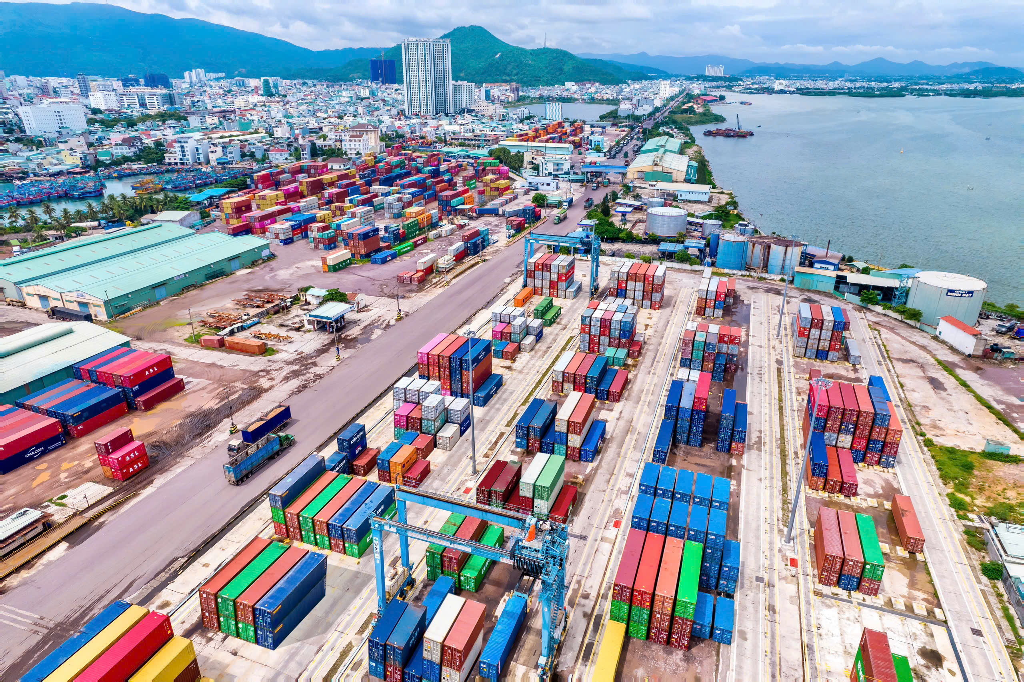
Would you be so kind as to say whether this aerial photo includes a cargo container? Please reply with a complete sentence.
Yes, looking at the shot, I can spot a cargo container.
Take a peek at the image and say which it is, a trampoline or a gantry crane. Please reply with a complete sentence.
Visible in the photo is a gantry crane.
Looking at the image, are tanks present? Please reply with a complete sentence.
Yes, there is a tank in the image.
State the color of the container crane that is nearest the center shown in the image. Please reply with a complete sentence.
The color of the container crane that is nearest the center is blue.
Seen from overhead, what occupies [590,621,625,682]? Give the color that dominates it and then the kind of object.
yellow shipping container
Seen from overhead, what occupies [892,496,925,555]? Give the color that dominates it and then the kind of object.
red shipping container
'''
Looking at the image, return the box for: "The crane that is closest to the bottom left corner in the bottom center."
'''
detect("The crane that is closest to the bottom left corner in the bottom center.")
[356,472,582,682]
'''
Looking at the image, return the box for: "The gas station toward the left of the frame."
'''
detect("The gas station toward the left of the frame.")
[303,301,359,333]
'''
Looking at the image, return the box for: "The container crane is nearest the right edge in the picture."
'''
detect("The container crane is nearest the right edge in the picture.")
[519,228,605,298]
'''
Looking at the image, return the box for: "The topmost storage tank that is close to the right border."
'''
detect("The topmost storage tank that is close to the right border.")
[907,269,995,329]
